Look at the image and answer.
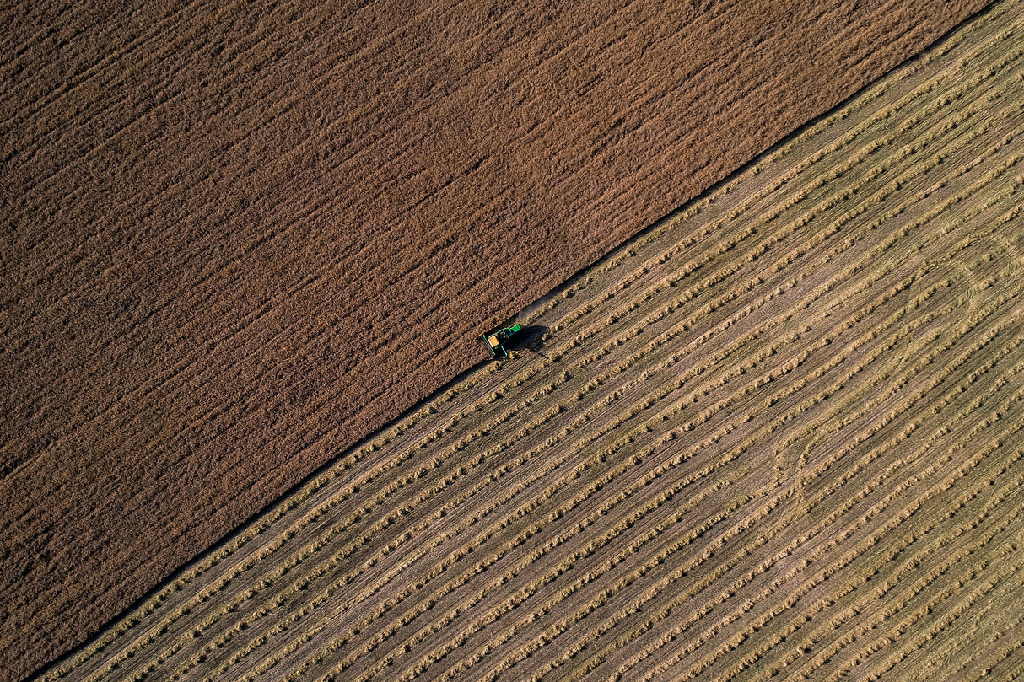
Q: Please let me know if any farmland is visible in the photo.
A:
Yes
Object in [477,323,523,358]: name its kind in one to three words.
work vehicle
